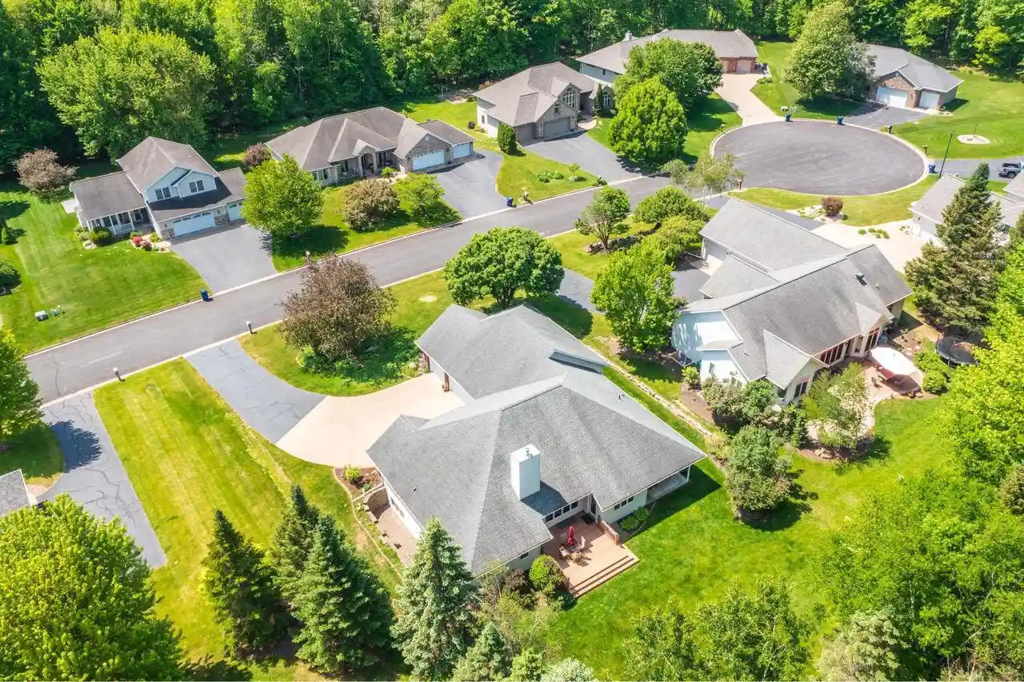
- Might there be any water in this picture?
No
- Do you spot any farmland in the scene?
No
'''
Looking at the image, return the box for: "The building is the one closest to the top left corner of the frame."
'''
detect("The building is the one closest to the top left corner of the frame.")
[67,135,252,240]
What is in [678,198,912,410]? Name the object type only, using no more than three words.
house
